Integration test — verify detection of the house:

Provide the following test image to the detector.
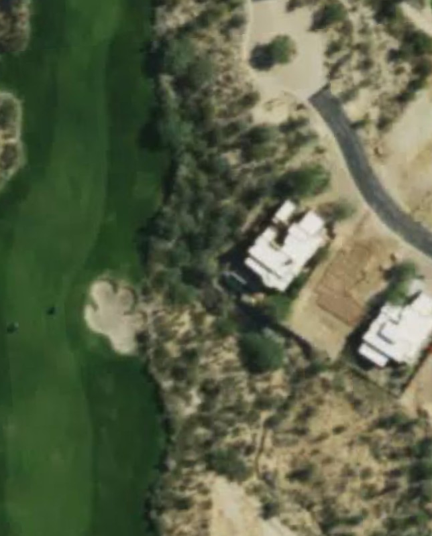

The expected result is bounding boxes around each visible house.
[359,289,432,367]
[244,200,330,294]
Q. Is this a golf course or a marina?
golf course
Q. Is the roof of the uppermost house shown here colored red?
No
